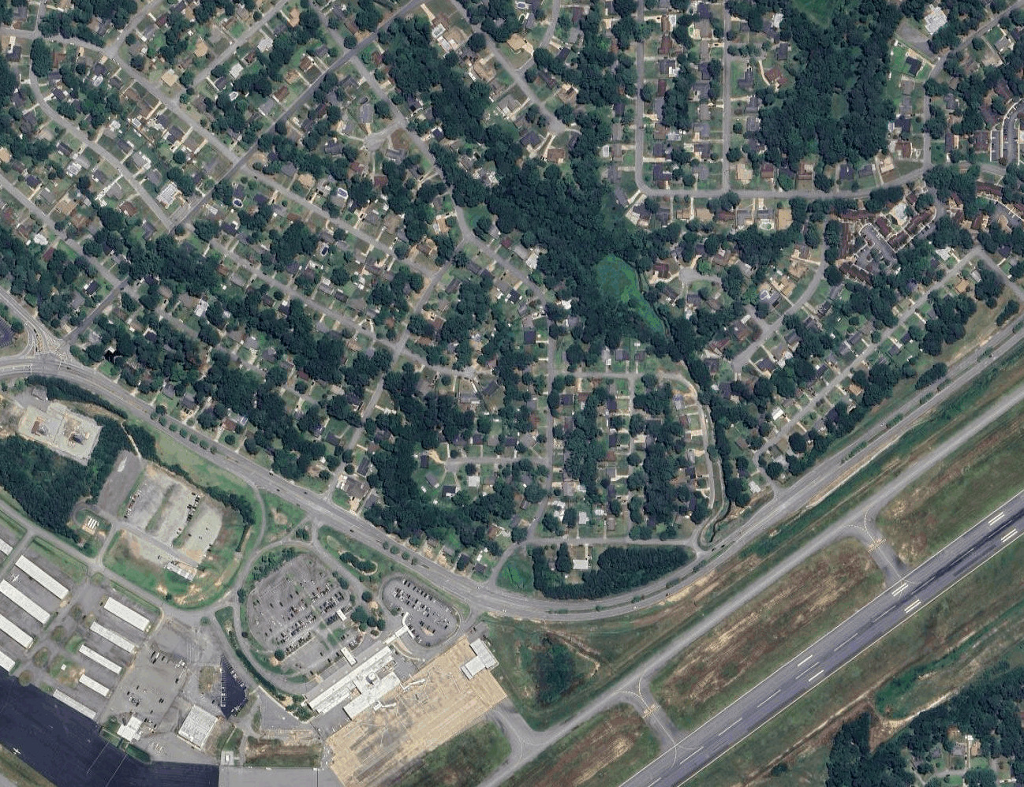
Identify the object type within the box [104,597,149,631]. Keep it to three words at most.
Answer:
hangar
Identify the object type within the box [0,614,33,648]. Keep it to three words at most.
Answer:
hangar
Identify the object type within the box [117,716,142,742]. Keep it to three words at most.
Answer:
building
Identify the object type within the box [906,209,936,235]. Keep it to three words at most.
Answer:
building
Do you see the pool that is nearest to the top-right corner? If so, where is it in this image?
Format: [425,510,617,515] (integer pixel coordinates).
[893,203,910,223]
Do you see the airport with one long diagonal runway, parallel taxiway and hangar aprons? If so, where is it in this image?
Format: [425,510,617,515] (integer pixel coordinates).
[0,384,1024,787]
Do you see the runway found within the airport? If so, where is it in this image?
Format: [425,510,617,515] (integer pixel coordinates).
[617,487,1024,787]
